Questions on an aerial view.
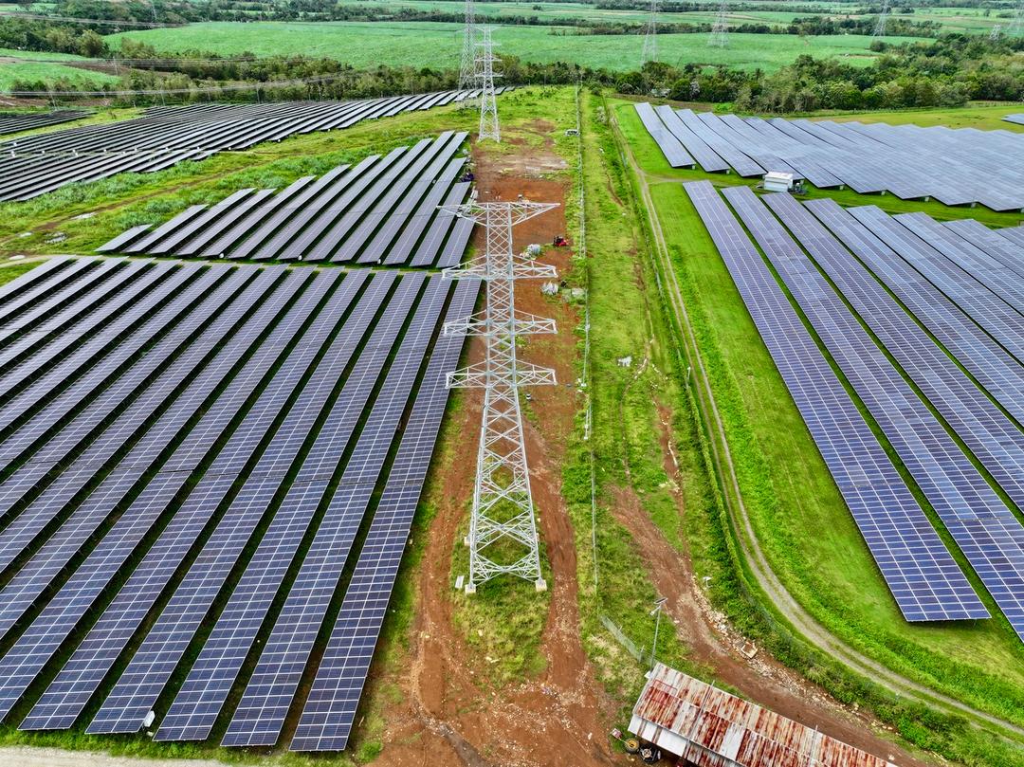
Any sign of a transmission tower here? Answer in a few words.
Yes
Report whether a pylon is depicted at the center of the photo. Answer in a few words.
Yes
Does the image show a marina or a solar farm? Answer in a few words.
solar farm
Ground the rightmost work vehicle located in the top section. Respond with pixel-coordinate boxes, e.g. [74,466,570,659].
[554,235,569,247]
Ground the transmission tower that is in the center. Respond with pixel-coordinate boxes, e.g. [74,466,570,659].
[436,197,562,593]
